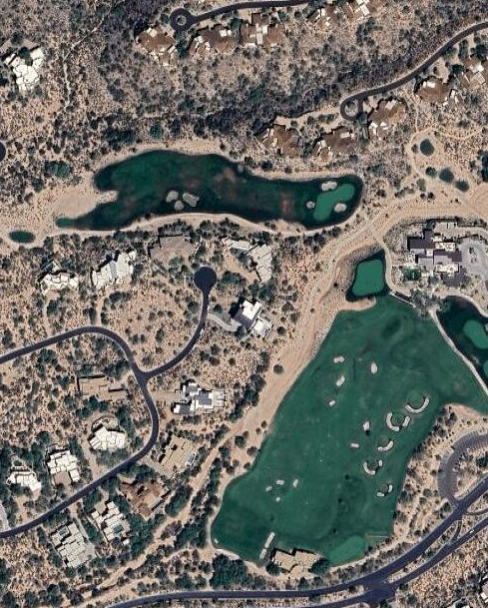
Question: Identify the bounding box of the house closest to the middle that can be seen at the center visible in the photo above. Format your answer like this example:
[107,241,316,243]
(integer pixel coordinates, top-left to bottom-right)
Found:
[231,299,274,340]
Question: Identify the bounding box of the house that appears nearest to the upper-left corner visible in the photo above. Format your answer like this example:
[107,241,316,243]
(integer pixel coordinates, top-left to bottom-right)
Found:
[3,39,42,86]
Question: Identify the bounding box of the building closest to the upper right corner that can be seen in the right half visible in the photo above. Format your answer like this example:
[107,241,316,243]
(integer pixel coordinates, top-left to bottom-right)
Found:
[456,54,488,88]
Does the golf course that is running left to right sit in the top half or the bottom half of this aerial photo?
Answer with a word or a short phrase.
top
